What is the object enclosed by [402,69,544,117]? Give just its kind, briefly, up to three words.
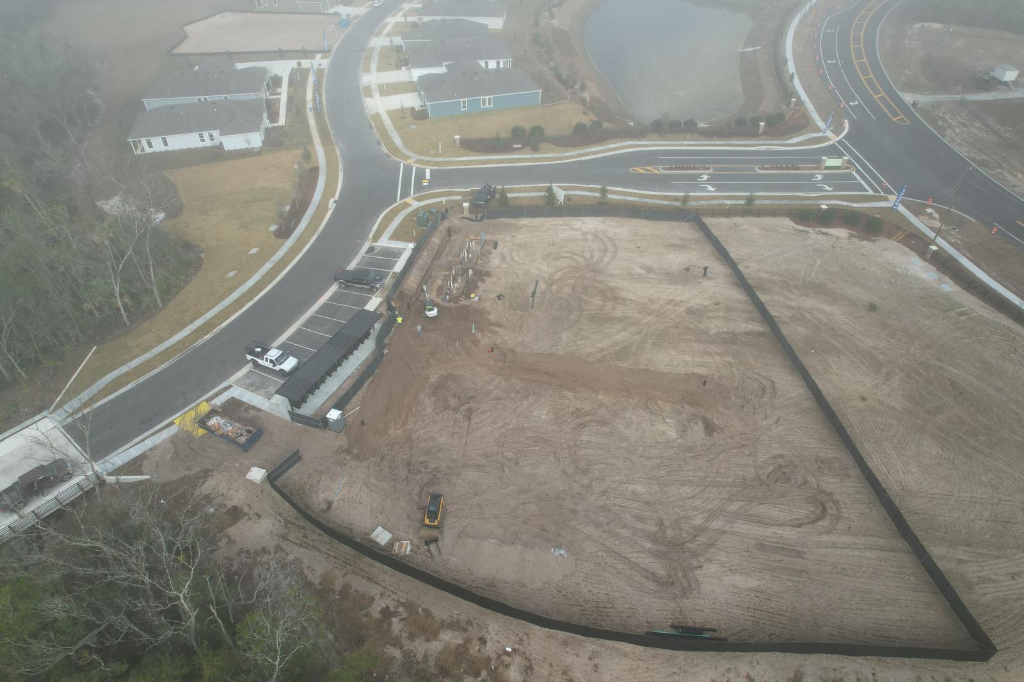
house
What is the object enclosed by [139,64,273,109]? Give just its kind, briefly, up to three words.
house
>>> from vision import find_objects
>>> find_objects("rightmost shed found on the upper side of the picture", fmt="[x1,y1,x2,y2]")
[985,58,1021,86]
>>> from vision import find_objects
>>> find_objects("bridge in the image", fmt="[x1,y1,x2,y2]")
[0,349,151,536]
